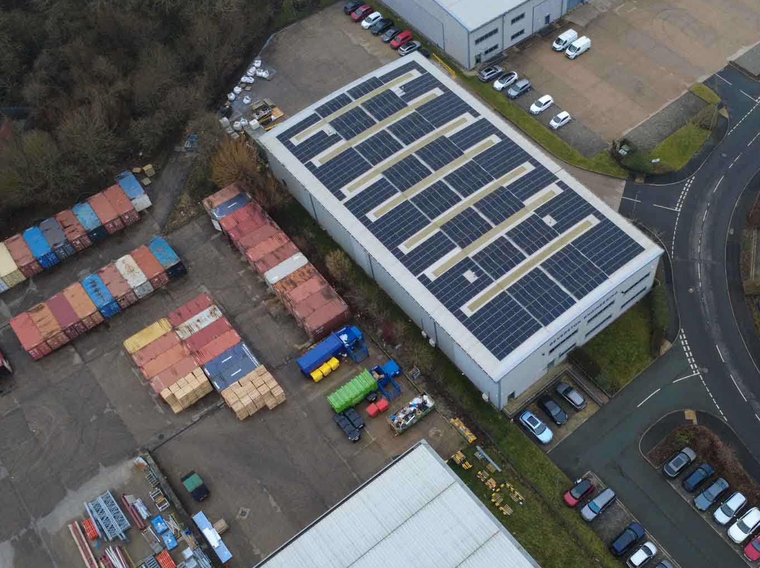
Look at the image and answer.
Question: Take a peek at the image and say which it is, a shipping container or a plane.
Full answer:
I can see a shipping container in this picture.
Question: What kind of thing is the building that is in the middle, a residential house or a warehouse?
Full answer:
What you see as the building that is in the middle is a warehouse.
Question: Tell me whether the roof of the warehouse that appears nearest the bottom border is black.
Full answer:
No, the roof of the warehouse that appears nearest the bottom border is white.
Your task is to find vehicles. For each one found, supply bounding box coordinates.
[654,557,677,568]
[493,73,519,92]
[550,112,571,129]
[507,79,531,99]
[397,40,423,57]
[369,17,397,38]
[554,383,588,412]
[714,491,747,524]
[745,533,760,560]
[360,10,384,30]
[520,412,552,444]
[381,27,403,44]
[389,29,414,49]
[478,62,504,83]
[565,479,595,506]
[343,0,367,15]
[537,395,569,427]
[554,28,578,52]
[419,46,434,58]
[624,539,661,568]
[695,478,730,510]
[580,488,616,521]
[567,35,591,59]
[610,521,645,556]
[352,4,374,21]
[730,507,760,541]
[530,96,554,115]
